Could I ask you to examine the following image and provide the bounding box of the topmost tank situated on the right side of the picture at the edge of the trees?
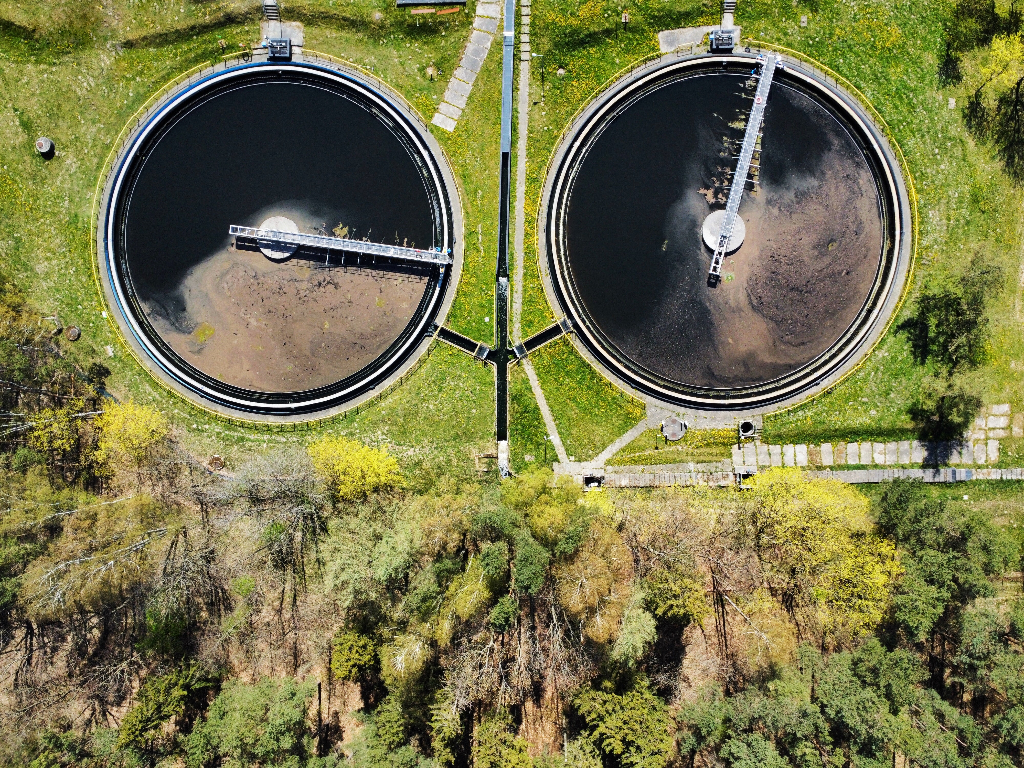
[544,50,906,412]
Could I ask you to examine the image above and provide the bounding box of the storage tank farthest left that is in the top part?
[102,60,456,414]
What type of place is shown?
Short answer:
industrial area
